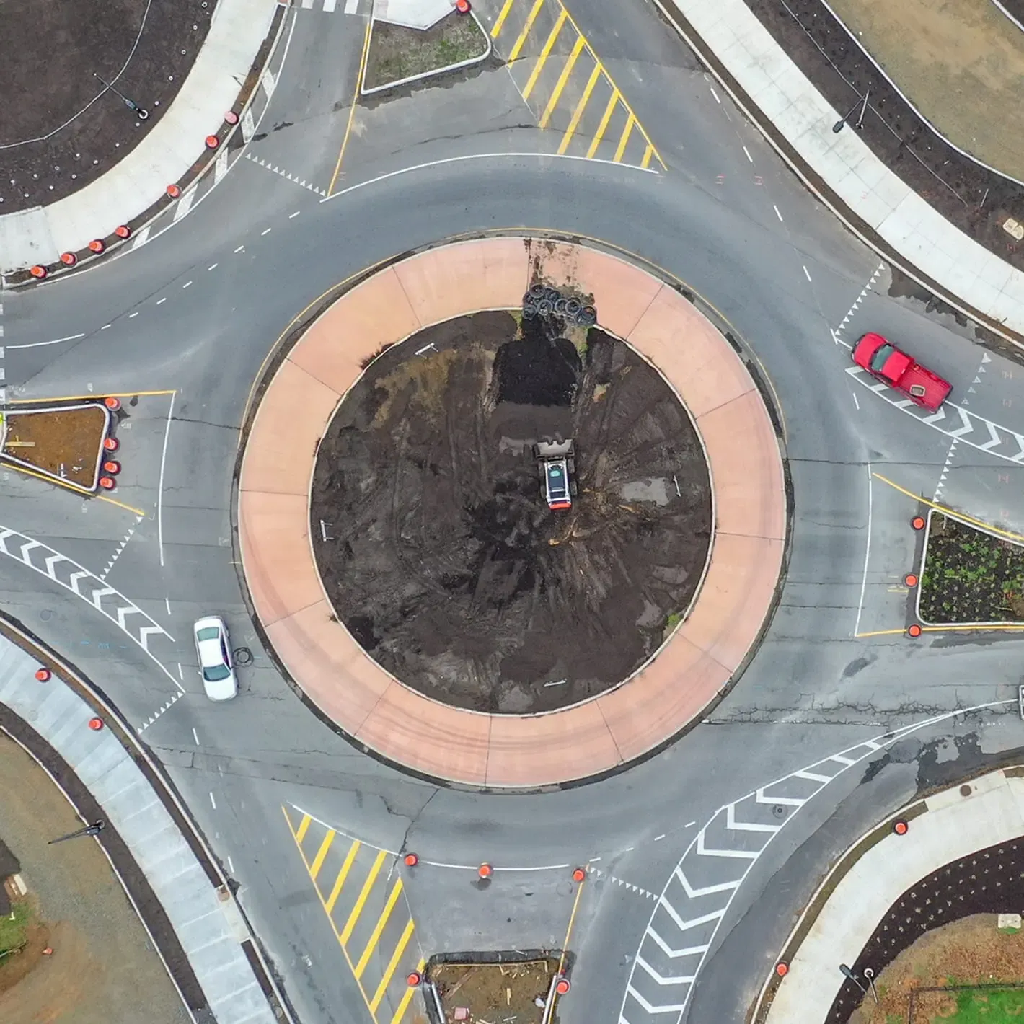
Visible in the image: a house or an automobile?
automobile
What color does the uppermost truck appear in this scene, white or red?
red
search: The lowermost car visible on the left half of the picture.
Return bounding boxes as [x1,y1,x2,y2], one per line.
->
[194,616,238,702]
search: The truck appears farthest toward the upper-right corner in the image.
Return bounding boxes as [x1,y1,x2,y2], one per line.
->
[851,333,956,417]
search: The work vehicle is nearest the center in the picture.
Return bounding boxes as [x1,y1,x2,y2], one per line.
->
[530,439,576,508]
